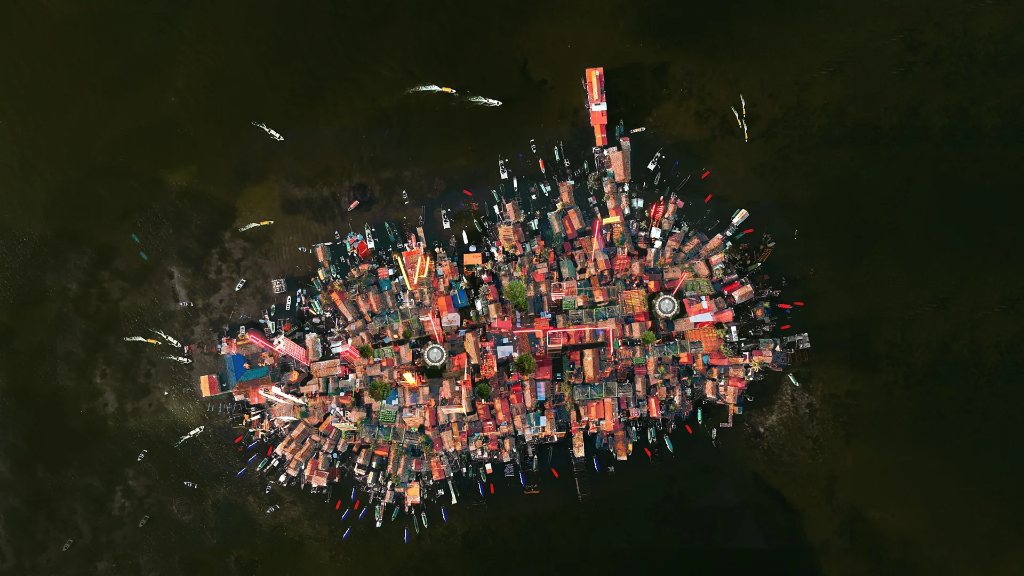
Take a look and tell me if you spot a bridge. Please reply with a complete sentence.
No, the scene contains no bridge.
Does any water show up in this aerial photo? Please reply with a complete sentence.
Yes, the picture does contain water.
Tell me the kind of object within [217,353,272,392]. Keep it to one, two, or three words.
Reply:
building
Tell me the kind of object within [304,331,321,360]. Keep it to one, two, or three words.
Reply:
house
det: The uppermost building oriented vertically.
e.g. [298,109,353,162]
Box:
[585,66,609,126]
